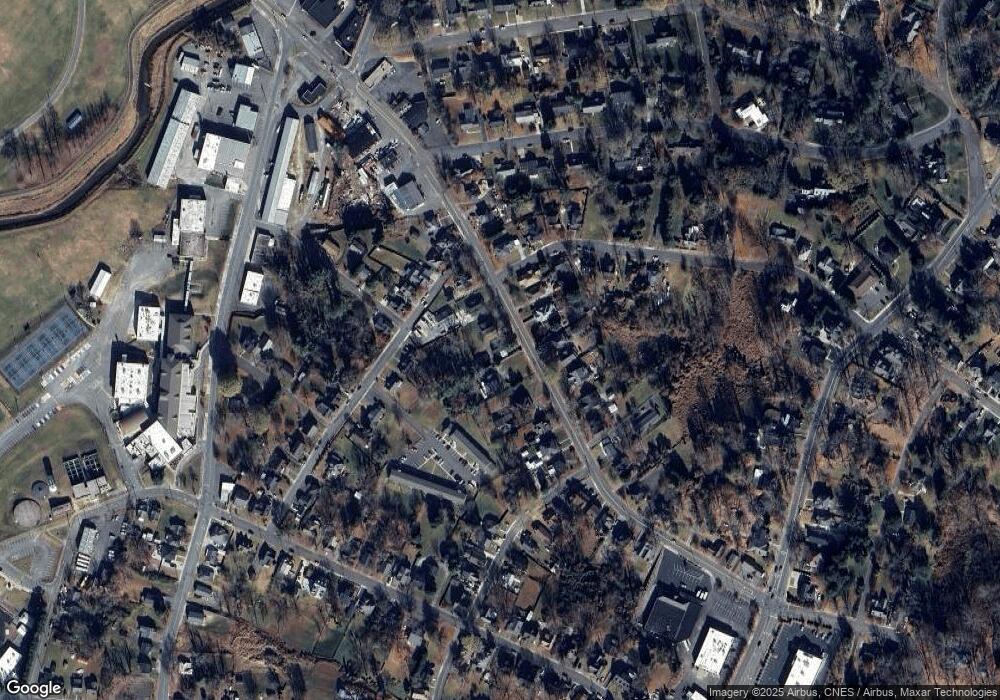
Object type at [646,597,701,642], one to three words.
building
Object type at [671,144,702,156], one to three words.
house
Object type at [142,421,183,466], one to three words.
building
